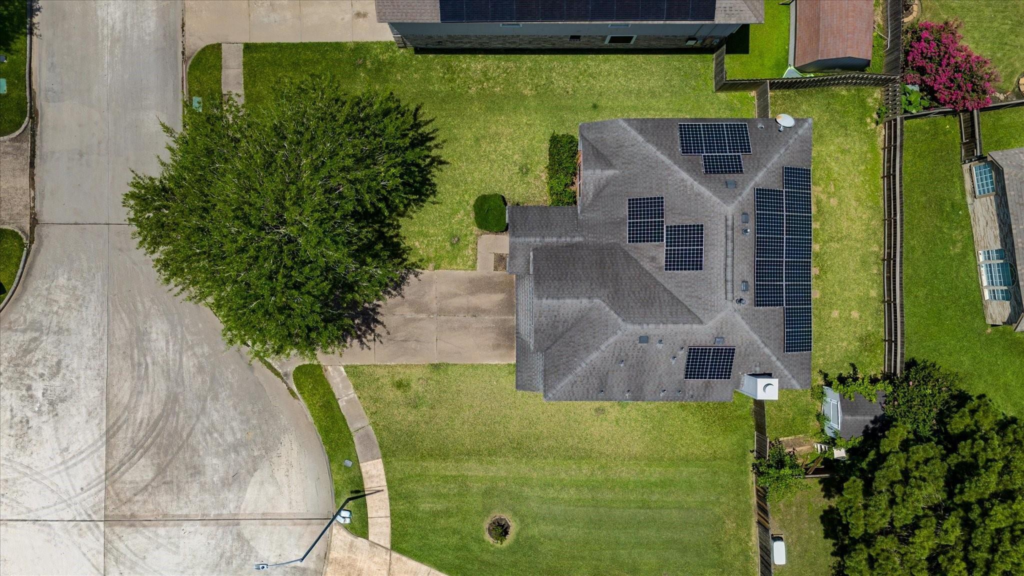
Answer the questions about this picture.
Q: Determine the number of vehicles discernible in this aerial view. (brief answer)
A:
0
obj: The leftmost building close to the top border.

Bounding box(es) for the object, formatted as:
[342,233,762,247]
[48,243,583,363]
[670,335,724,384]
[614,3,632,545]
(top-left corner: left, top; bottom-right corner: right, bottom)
[377,0,764,49]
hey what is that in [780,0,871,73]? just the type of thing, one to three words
shed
